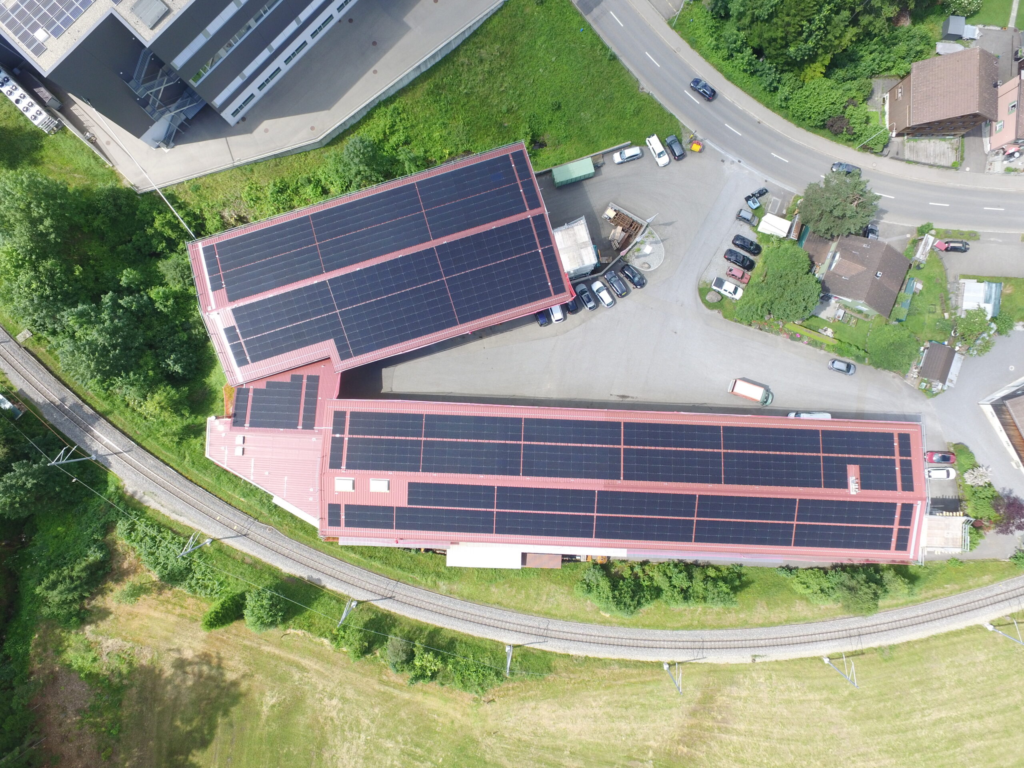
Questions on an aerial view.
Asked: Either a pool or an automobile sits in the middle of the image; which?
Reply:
automobile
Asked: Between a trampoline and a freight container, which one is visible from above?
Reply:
freight container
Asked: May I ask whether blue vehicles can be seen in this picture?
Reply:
Yes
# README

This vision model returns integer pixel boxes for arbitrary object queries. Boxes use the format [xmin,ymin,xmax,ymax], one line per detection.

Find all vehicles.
[605,270,627,300]
[665,134,686,163]
[547,304,564,324]
[644,132,669,170]
[687,78,719,104]
[709,275,743,301]
[575,283,597,313]
[825,358,854,376]
[745,195,763,212]
[725,377,773,405]
[942,239,969,254]
[565,297,581,315]
[863,222,881,242]
[533,308,550,327]
[786,409,834,418]
[926,466,955,481]
[828,158,859,177]
[724,265,750,286]
[722,248,754,273]
[733,208,760,229]
[612,146,642,166]
[593,242,604,268]
[730,233,761,257]
[592,280,614,310]
[620,261,646,292]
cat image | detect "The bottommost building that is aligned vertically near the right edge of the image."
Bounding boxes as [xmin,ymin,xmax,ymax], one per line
[978,376,1024,487]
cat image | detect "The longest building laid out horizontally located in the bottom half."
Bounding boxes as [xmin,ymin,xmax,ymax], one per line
[314,398,928,562]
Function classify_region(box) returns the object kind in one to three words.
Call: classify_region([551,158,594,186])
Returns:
shipping container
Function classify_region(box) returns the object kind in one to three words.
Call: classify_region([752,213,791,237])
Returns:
tent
